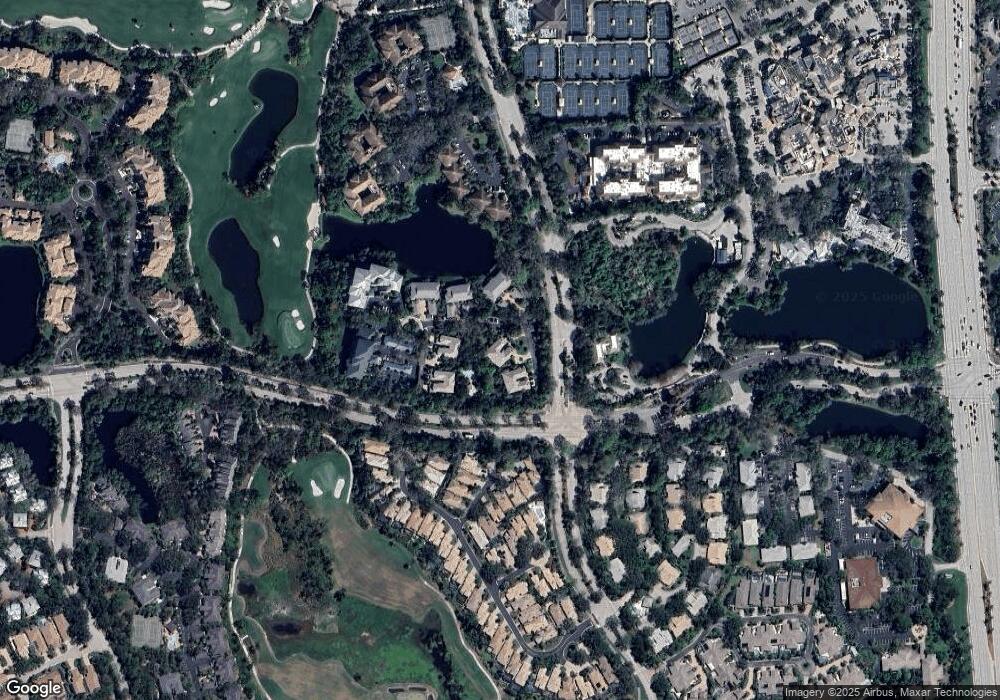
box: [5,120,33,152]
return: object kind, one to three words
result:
tennis court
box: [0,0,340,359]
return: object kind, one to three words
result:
golf course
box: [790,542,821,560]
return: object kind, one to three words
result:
house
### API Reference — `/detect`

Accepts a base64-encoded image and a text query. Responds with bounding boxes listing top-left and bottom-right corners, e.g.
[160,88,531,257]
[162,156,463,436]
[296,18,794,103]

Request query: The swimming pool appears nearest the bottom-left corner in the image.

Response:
[164,630,180,651]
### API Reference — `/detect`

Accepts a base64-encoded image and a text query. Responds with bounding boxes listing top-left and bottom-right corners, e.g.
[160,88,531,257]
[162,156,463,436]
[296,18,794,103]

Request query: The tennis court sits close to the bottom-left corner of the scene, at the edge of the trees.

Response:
[131,615,162,647]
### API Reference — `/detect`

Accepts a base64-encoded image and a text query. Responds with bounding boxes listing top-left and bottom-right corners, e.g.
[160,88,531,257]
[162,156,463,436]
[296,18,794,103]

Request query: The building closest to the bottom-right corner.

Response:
[925,652,950,693]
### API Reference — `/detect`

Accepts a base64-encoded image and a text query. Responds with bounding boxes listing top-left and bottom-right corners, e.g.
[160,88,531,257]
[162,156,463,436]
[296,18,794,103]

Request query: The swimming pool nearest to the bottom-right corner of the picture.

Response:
[531,501,545,527]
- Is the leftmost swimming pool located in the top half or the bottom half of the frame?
top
